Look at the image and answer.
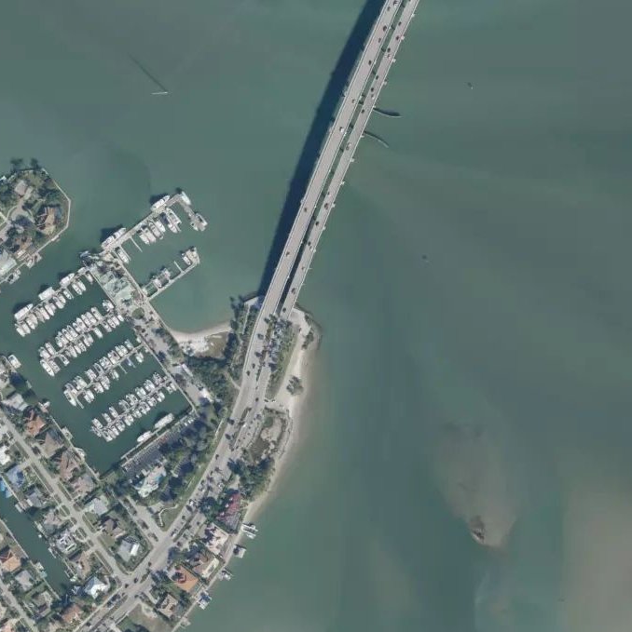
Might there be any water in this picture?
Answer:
Yes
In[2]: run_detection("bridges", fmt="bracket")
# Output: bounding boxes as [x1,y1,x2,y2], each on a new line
[264,0,402,312]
